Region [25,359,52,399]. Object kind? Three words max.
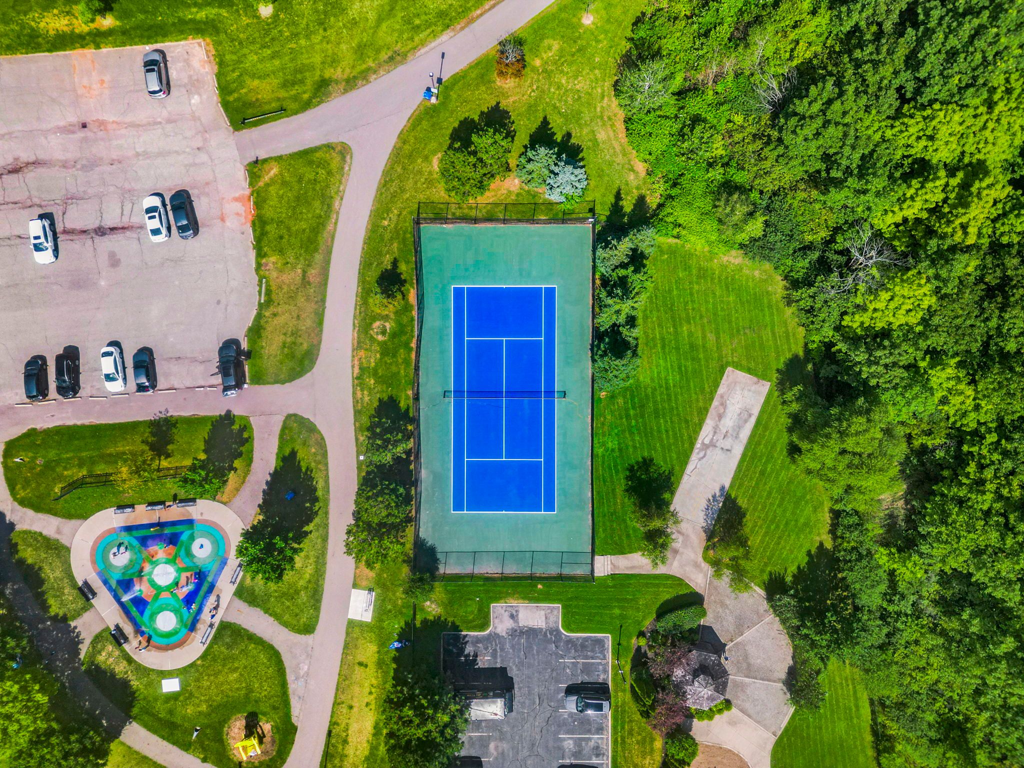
car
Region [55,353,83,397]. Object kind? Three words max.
car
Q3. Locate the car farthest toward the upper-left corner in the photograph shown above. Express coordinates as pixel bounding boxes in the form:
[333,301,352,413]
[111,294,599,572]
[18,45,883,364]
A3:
[144,54,171,100]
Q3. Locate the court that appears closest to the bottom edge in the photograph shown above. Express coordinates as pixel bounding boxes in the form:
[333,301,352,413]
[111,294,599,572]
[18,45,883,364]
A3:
[420,223,594,574]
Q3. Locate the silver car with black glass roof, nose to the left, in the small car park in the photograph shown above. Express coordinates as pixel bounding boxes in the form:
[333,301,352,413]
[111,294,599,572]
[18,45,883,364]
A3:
[564,689,610,714]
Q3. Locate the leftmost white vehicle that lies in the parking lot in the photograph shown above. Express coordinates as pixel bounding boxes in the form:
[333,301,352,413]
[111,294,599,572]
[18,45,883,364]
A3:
[31,219,61,264]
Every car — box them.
[564,689,610,714]
[25,359,52,399]
[146,197,174,244]
[105,346,131,392]
[135,351,160,393]
[55,353,83,397]
[213,346,252,396]
[144,54,171,100]
[31,219,61,264]
[173,194,200,240]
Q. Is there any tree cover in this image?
Yes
